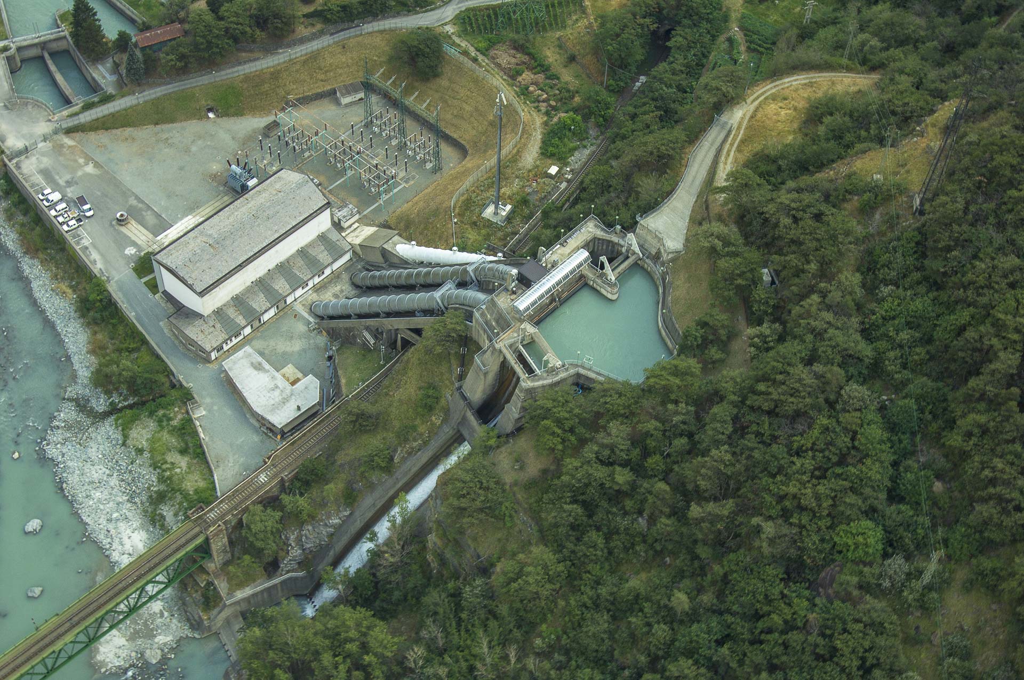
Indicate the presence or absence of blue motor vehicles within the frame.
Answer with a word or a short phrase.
No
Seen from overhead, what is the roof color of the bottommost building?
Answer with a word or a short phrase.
white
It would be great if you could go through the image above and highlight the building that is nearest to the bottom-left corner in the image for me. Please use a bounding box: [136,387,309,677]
[222,346,320,438]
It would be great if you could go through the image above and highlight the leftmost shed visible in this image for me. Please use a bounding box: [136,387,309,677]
[135,22,182,48]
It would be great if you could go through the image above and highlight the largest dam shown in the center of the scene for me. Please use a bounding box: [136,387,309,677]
[455,213,683,443]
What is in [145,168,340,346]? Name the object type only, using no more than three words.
building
